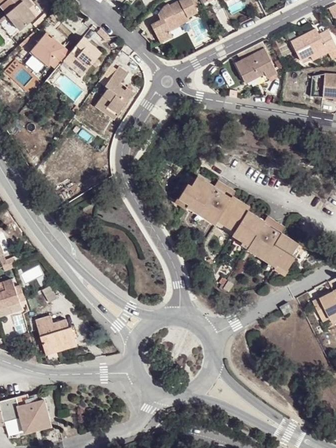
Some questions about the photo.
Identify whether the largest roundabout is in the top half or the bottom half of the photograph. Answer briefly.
bottom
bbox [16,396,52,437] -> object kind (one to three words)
house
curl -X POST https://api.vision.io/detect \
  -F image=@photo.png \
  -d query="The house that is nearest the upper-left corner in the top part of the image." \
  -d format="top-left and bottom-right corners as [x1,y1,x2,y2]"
[0,0,46,30]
